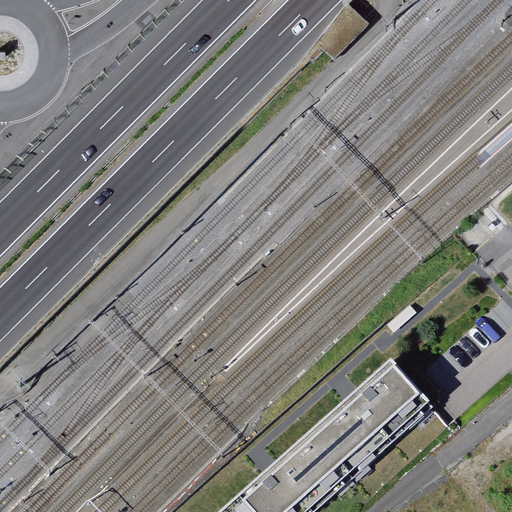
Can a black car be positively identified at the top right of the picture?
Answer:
No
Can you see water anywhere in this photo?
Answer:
No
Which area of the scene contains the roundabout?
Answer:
top left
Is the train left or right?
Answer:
right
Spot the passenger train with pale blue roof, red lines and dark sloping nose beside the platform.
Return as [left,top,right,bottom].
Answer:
[478,123,512,163]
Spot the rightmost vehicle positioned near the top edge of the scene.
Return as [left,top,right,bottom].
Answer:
[289,16,310,37]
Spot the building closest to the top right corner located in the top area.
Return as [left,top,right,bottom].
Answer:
[318,4,368,59]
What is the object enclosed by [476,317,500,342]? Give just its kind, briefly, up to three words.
vehicle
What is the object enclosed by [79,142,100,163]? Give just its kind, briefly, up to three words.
car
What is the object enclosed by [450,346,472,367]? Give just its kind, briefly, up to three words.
car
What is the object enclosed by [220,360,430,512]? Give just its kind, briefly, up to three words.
building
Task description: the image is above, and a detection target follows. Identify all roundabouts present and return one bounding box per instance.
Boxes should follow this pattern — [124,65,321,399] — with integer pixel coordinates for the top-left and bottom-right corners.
[0,0,72,126]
